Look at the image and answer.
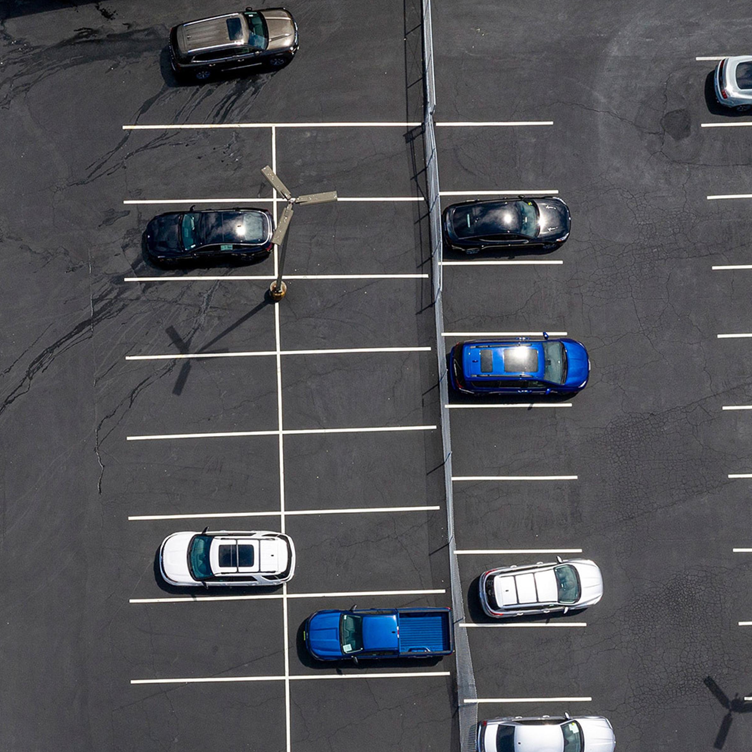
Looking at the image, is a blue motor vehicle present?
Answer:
Yes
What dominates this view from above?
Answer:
paved ground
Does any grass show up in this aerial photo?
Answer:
No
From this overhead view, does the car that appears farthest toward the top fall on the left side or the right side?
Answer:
left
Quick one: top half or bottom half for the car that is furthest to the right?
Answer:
top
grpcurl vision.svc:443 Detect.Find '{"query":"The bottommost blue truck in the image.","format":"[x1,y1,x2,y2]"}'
[305,601,455,665]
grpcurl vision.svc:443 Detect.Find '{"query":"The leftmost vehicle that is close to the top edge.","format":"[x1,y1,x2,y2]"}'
[169,5,299,81]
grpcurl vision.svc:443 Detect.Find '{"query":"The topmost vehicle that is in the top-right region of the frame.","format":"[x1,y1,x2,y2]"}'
[714,58,752,115]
